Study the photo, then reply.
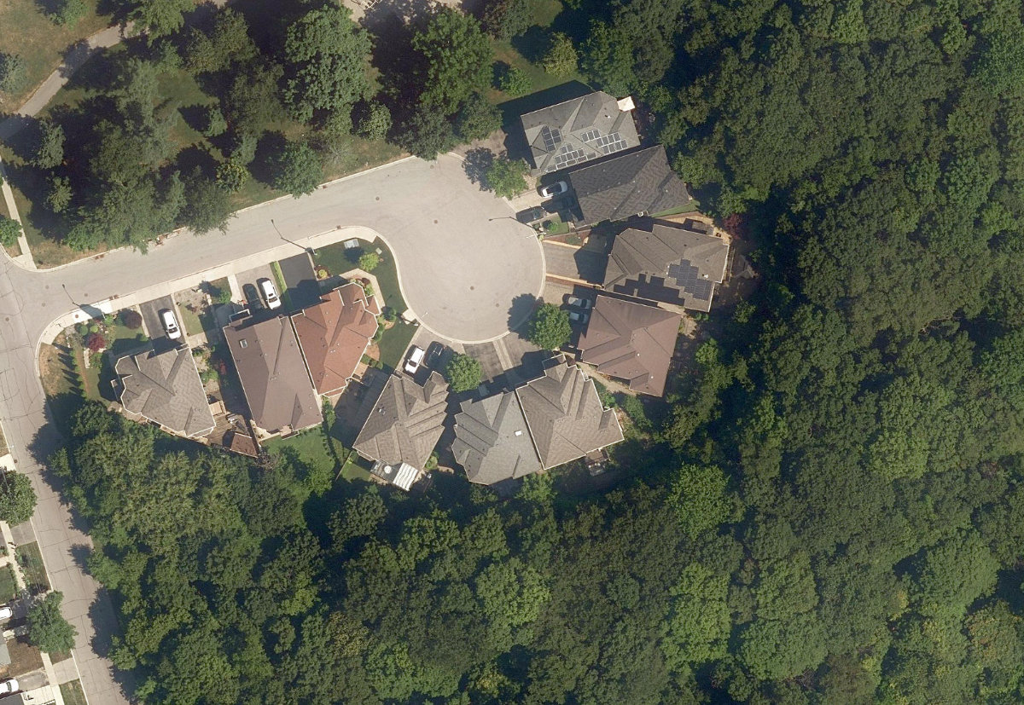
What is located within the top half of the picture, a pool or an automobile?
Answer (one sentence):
You can see an automobile within the top half of the picture.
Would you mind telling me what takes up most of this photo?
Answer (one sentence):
What you mostly see from above here is trees.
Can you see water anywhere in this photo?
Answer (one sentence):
No, water can't be seen anywhere here.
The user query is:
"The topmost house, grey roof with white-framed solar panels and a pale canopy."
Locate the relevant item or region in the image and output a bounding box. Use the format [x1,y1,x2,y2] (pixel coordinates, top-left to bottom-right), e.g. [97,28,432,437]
[520,91,641,176]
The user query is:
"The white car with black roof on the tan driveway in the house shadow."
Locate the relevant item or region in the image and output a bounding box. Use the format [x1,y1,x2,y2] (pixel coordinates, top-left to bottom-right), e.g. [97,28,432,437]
[540,180,569,198]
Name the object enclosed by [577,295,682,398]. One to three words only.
house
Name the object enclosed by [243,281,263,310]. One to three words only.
car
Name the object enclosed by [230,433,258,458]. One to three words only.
shed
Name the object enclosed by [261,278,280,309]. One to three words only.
car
